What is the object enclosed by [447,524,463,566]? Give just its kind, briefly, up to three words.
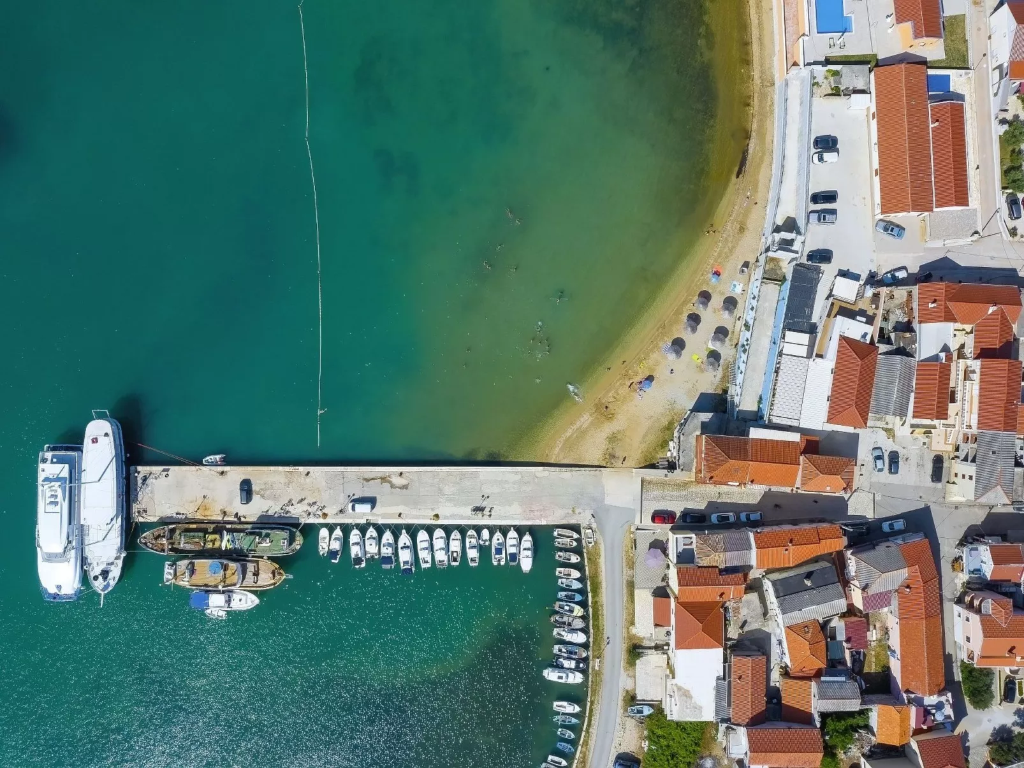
boat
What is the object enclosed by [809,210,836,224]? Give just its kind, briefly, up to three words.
car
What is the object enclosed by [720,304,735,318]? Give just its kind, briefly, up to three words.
umbrella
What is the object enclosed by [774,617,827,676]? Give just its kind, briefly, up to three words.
house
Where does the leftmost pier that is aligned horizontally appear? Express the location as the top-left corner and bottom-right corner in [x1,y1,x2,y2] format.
[132,466,604,525]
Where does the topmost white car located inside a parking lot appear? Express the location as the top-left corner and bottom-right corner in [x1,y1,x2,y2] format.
[813,152,838,165]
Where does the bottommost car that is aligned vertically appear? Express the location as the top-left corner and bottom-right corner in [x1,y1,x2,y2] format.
[1004,677,1016,703]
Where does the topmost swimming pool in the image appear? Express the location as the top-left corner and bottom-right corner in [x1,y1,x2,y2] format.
[814,0,857,36]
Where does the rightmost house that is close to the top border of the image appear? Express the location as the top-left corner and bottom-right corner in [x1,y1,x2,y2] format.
[985,1,1024,88]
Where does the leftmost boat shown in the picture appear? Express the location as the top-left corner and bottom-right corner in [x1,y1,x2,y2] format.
[34,441,84,602]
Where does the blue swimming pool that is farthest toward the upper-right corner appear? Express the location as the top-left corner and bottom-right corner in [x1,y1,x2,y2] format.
[927,71,953,95]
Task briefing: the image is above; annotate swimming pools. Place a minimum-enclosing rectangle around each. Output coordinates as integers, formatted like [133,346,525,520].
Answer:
[814,0,857,36]
[927,71,953,95]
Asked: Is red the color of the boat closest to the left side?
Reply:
No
